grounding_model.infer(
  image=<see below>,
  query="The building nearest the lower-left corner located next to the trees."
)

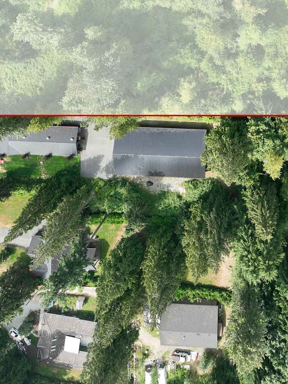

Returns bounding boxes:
[34,305,100,373]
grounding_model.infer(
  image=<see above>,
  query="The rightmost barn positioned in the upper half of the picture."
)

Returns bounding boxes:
[112,124,207,179]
